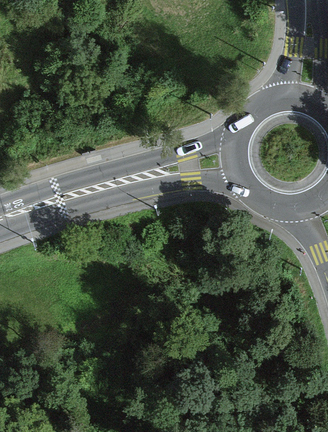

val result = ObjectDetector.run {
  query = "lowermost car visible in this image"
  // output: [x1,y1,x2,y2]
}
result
[230,184,252,199]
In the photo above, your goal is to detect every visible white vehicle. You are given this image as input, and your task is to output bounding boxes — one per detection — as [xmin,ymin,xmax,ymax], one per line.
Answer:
[228,114,257,134]
[176,142,204,157]
[230,184,252,199]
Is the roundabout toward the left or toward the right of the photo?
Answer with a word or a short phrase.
right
